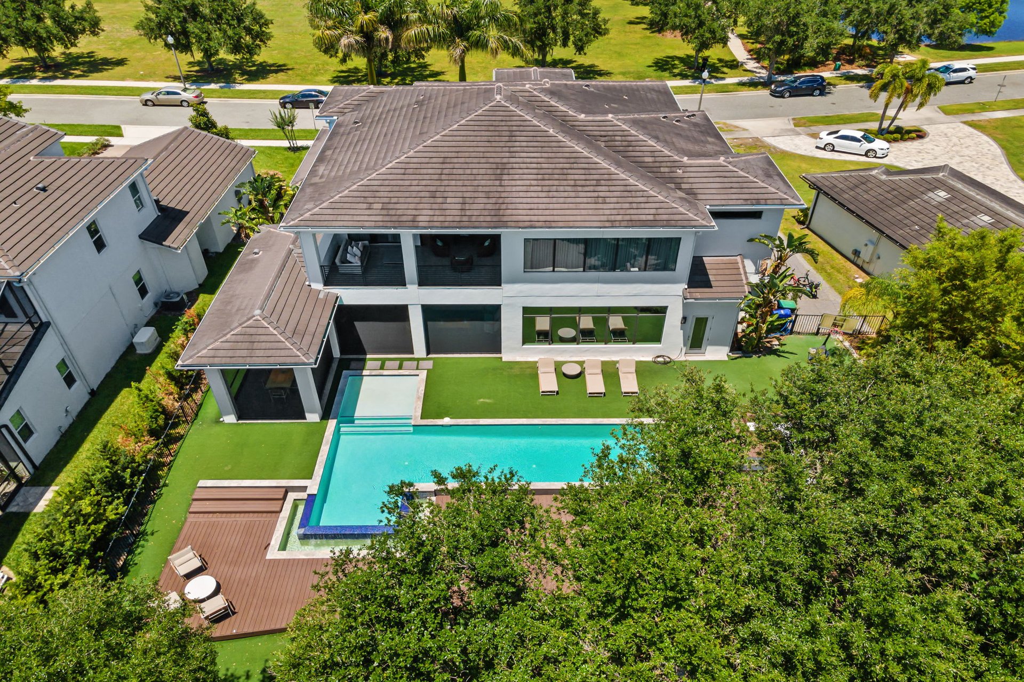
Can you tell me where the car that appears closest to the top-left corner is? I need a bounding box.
[141,78,208,104]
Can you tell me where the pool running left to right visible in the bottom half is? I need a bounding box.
[194,370,666,549]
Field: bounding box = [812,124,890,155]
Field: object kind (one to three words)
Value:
car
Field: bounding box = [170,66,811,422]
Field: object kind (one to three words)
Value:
house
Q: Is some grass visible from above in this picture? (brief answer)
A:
Yes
